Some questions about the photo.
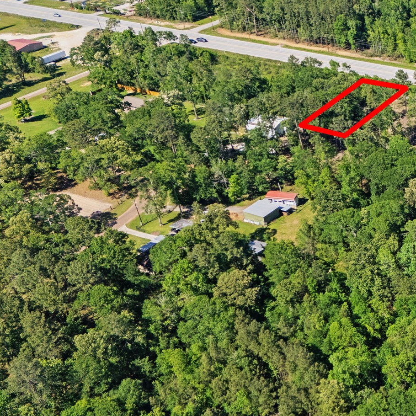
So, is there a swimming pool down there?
No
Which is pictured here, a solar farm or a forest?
forest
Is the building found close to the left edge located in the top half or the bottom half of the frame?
top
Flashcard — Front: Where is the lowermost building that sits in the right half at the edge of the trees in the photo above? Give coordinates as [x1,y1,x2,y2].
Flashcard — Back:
[248,241,272,262]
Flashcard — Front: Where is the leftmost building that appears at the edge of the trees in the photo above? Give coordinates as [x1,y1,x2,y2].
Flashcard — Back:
[10,37,45,58]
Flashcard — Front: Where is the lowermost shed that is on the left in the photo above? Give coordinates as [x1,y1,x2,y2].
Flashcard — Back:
[137,234,167,260]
